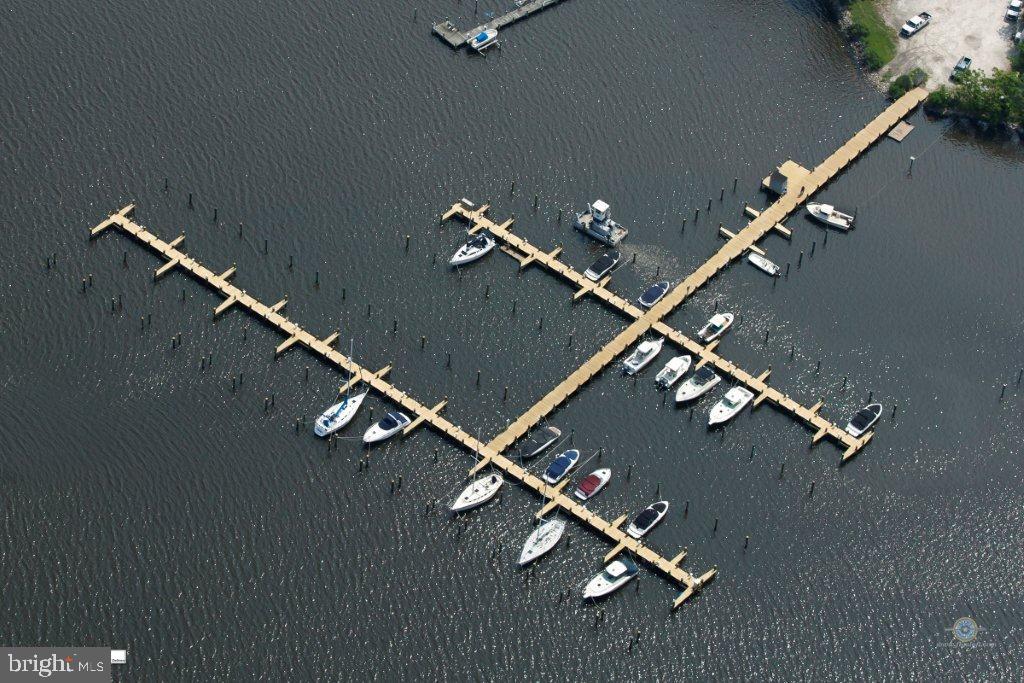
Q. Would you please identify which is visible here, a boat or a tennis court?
boat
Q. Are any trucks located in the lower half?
No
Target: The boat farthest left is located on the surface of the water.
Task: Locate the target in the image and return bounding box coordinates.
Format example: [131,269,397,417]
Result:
[316,343,371,436]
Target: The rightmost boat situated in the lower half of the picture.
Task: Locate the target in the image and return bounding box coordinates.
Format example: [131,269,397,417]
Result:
[844,405,883,441]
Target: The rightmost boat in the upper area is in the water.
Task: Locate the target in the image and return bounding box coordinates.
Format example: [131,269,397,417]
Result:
[805,202,857,232]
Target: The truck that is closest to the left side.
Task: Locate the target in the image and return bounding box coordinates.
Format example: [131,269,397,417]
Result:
[897,10,934,40]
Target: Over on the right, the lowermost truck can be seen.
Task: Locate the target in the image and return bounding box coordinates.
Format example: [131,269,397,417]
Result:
[946,54,975,82]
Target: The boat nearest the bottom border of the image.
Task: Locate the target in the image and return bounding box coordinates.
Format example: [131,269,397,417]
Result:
[579,555,641,601]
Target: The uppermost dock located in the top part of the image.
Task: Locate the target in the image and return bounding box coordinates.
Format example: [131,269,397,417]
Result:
[429,0,562,56]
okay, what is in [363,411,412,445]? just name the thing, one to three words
boat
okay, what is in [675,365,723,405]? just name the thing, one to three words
boat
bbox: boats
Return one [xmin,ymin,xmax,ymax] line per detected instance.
[746,254,780,276]
[696,312,734,345]
[518,480,566,566]
[844,405,883,441]
[675,365,723,405]
[363,411,412,445]
[625,502,670,542]
[805,202,857,232]
[316,343,371,436]
[573,203,630,248]
[706,366,756,427]
[623,335,667,376]
[452,430,505,513]
[584,254,622,284]
[517,0,532,7]
[656,354,693,391]
[579,555,641,601]
[542,450,581,488]
[468,30,499,53]
[517,428,562,460]
[450,214,496,267]
[573,469,612,505]
[638,282,670,310]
